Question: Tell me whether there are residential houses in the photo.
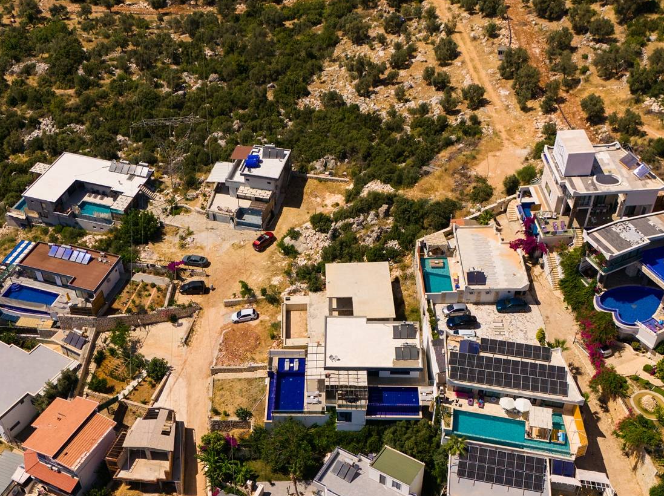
Yes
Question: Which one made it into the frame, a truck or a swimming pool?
swimming pool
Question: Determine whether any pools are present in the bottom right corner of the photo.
Yes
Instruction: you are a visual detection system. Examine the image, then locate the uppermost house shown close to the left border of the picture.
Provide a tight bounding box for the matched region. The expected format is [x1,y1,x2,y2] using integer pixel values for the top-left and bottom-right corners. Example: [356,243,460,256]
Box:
[6,152,154,236]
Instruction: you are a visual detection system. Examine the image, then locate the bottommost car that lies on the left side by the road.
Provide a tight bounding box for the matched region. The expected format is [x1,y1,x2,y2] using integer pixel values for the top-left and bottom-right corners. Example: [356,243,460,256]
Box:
[232,308,259,323]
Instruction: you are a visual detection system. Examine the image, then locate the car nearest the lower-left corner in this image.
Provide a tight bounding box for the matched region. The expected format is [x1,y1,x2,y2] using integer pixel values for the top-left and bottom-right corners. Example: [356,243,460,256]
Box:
[179,279,207,296]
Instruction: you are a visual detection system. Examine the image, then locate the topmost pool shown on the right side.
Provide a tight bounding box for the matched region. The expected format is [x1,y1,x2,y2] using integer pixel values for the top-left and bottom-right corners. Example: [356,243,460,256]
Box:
[516,202,536,220]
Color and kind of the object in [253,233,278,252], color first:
red car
